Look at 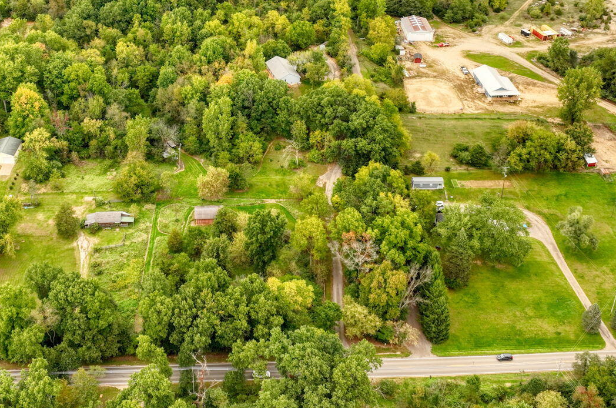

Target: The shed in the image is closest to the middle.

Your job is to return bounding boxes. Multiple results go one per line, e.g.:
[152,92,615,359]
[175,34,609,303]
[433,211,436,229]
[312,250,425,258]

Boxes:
[194,207,222,226]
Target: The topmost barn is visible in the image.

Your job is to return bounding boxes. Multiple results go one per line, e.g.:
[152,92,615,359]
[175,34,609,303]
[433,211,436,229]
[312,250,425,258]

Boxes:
[399,12,435,41]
